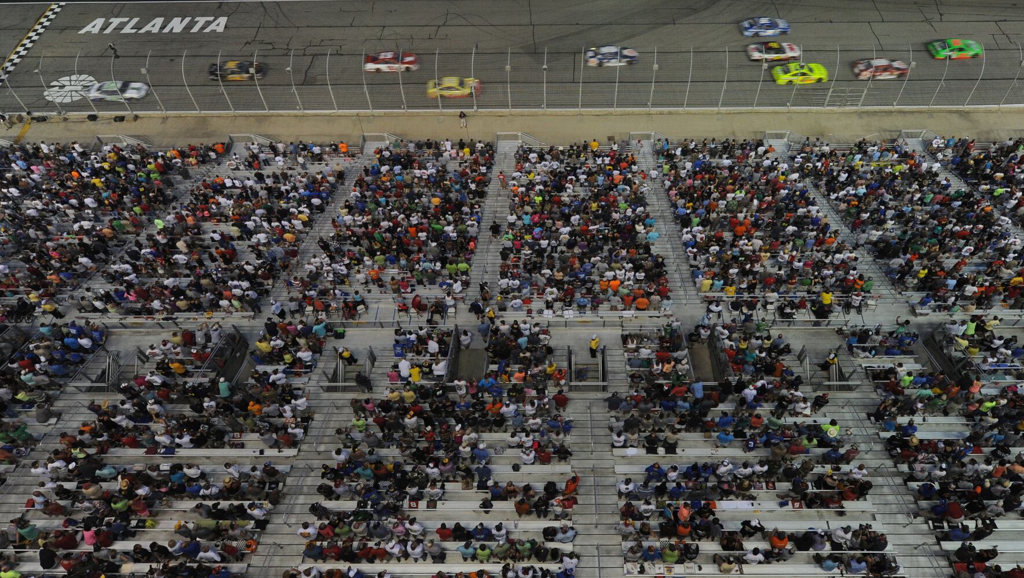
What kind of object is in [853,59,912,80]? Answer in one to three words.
car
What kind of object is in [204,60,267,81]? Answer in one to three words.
car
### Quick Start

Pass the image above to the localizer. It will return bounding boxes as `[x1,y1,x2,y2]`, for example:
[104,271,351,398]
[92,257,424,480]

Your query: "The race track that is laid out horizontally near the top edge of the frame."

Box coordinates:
[0,0,1024,113]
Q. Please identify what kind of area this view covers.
sports ground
